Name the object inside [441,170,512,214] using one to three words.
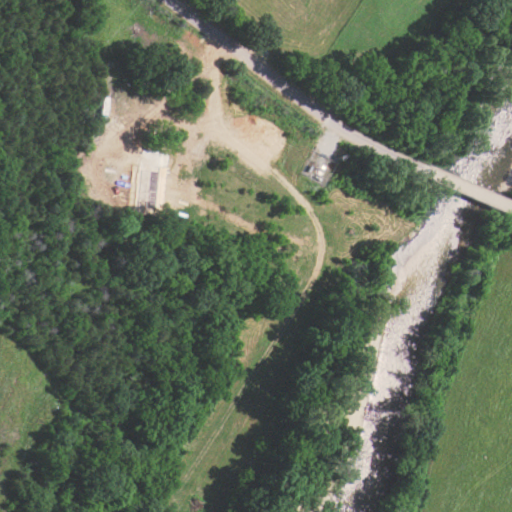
bridge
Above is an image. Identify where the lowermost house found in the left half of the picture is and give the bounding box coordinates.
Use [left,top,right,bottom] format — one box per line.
[129,149,170,211]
